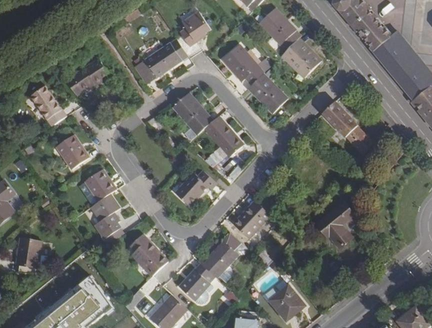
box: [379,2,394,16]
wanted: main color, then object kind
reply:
white vehicle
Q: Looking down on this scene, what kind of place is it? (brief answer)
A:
residential area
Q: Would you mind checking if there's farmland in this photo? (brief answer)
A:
No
